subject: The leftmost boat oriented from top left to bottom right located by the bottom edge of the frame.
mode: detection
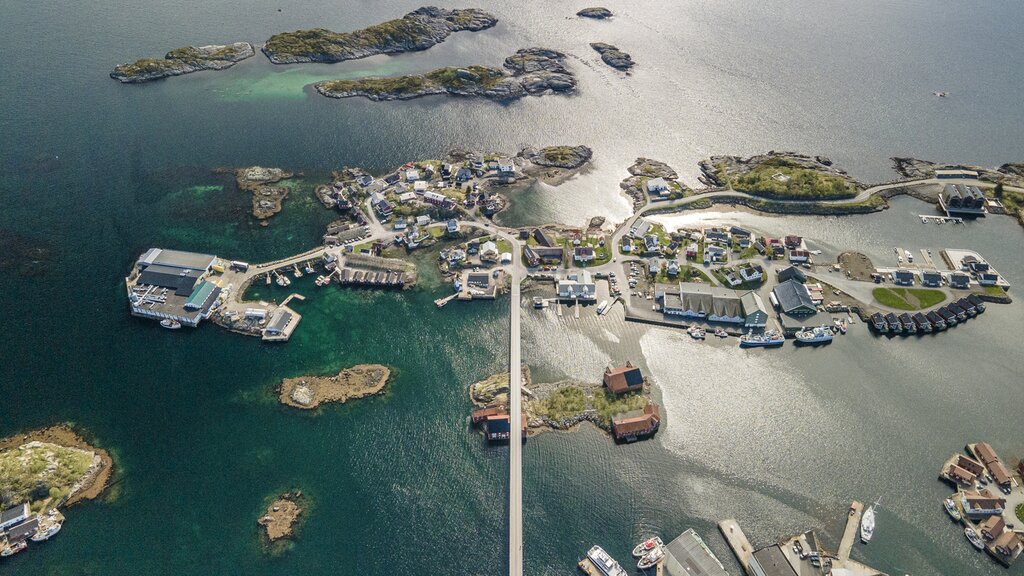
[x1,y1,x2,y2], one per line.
[593,541,636,576]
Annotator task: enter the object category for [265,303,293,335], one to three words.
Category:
shed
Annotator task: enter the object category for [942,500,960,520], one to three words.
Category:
boat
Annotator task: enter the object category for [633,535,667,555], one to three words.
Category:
boat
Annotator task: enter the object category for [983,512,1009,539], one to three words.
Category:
building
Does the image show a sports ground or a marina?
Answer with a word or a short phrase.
marina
